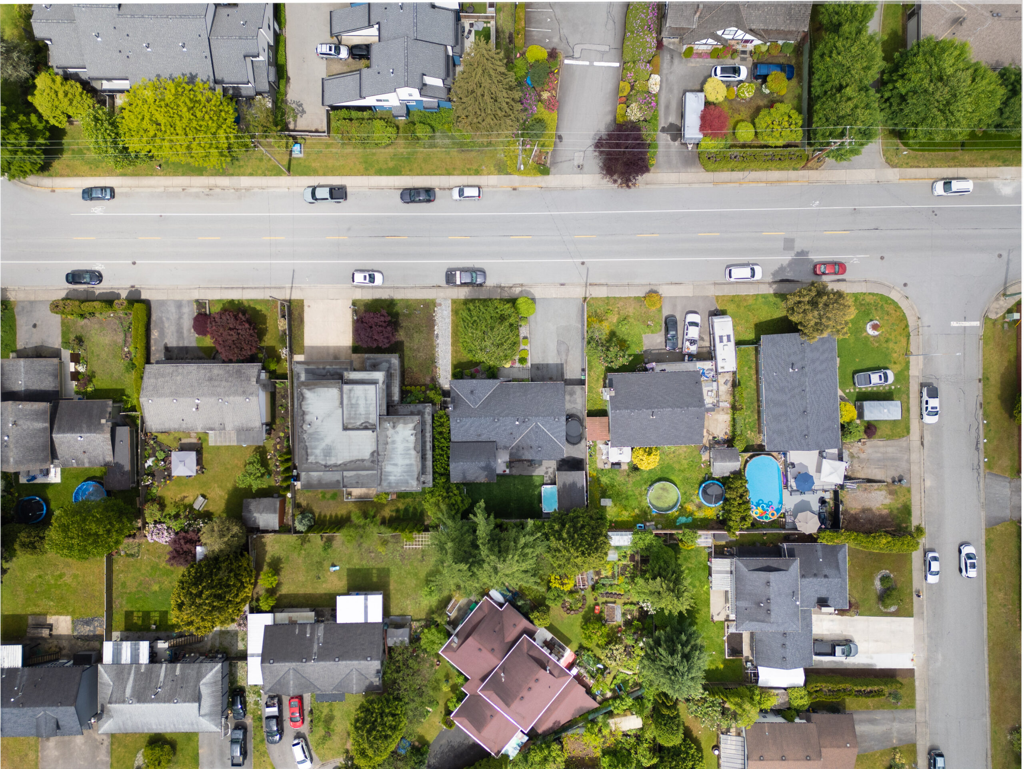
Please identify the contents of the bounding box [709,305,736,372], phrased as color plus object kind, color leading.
white vehicle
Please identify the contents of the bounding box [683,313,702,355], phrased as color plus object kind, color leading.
white vehicle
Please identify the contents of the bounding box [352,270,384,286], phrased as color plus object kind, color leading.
white car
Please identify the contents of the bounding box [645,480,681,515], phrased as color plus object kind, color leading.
green swimming pool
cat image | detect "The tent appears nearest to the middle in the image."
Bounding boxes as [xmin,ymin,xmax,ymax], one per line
[607,446,631,462]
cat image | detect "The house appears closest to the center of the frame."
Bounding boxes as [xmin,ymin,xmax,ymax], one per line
[448,379,566,482]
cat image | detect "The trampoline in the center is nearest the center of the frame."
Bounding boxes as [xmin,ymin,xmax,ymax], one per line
[566,415,582,446]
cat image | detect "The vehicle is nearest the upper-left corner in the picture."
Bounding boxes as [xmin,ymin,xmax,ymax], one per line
[83,185,118,202]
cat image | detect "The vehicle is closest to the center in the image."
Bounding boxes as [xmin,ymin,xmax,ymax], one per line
[445,268,487,285]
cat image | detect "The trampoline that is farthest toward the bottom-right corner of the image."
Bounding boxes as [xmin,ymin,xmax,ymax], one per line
[698,480,728,508]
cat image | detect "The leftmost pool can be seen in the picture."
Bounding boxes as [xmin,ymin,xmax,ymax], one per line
[73,479,110,511]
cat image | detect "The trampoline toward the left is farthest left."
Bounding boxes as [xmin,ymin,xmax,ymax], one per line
[10,494,49,525]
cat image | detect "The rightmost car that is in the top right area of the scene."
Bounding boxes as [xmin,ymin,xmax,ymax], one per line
[929,179,974,196]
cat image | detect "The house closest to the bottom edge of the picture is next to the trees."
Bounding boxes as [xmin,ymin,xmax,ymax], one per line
[716,705,861,769]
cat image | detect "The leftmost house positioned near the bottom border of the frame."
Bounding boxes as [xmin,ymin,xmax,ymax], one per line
[0,636,102,742]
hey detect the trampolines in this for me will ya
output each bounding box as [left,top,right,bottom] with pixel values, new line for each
[698,480,728,508]
[566,415,582,446]
[10,494,49,525]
